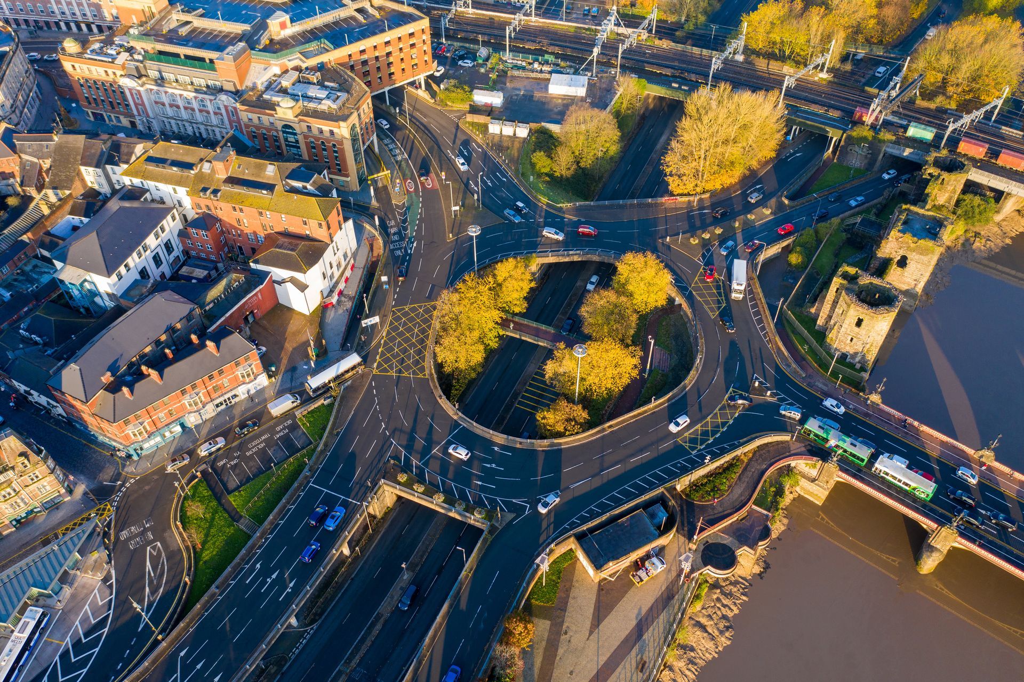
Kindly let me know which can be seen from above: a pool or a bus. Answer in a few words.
bus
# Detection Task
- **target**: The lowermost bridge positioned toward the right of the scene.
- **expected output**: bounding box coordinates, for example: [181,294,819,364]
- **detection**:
[800,375,1024,582]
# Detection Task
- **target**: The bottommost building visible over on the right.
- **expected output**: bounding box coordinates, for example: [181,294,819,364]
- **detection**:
[570,496,679,585]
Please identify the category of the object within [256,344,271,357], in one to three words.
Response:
vehicle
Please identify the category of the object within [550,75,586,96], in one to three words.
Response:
shed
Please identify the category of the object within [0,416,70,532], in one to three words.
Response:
building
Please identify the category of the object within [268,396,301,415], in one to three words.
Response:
vehicle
